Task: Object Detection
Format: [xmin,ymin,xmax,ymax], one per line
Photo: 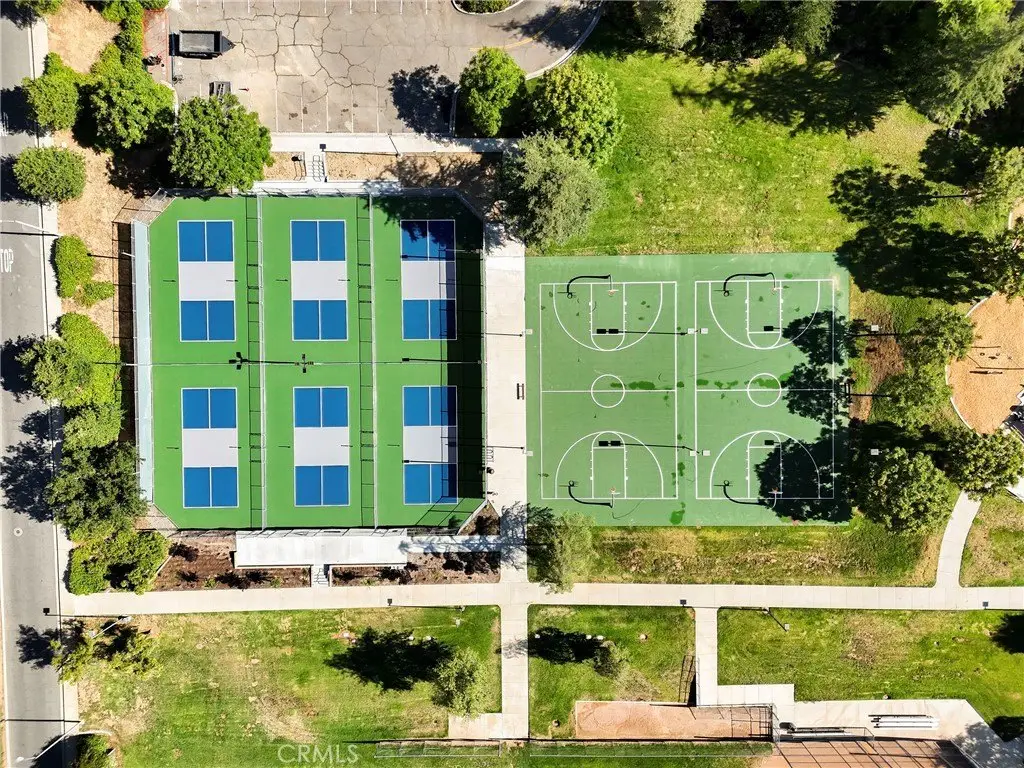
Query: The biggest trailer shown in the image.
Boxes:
[175,30,235,60]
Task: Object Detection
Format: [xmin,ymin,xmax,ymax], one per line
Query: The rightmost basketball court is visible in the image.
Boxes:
[686,253,851,525]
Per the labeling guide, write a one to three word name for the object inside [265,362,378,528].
sports court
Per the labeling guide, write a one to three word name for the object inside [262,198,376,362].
sports court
